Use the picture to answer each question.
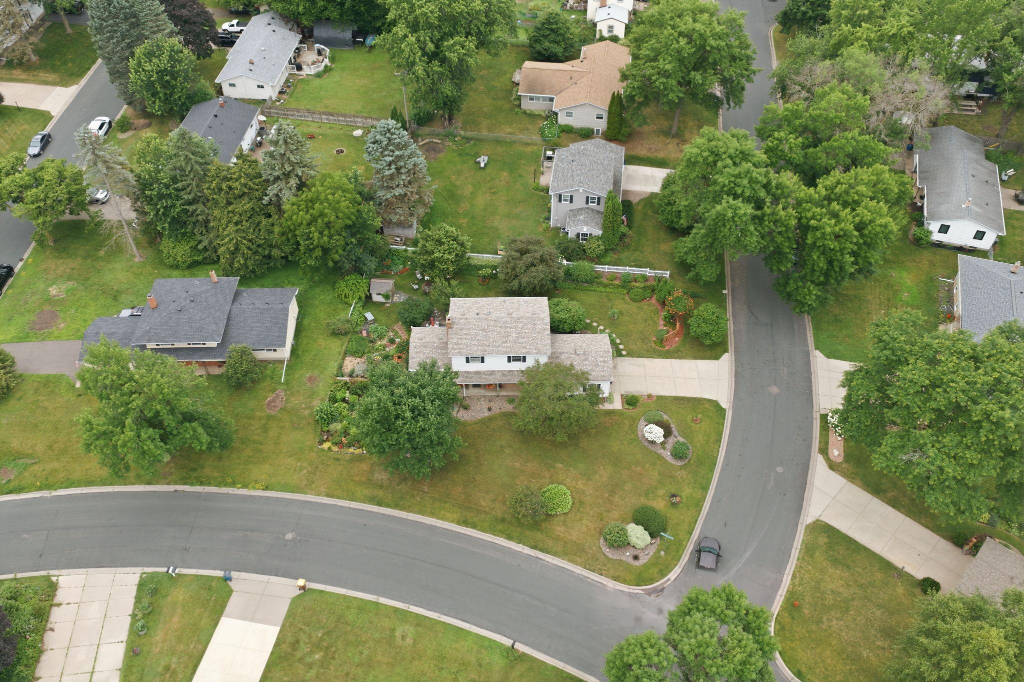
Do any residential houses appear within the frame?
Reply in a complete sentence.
Yes, the frame does contain a residential house.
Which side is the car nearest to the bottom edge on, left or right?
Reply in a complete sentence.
The car nearest to the bottom edge appears in the right half of the scene.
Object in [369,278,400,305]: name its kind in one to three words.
shed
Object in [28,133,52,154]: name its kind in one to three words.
car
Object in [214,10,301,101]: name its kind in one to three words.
house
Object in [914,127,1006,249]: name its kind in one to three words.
house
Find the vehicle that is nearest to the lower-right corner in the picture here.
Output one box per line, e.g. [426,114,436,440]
[696,535,723,575]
